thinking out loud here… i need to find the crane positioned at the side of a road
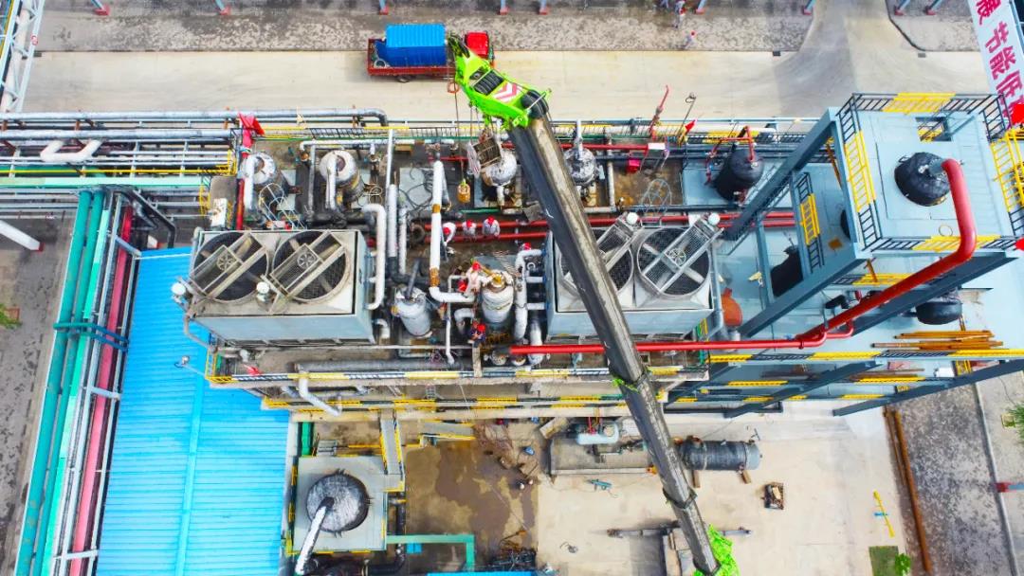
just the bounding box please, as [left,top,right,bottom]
[444,34,751,576]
